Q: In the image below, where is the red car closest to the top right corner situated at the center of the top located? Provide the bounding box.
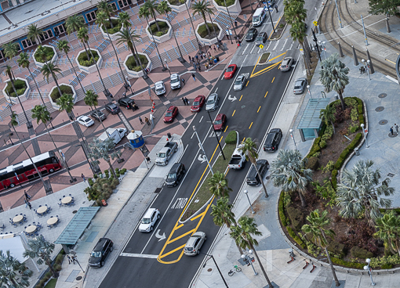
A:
[223,65,239,80]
